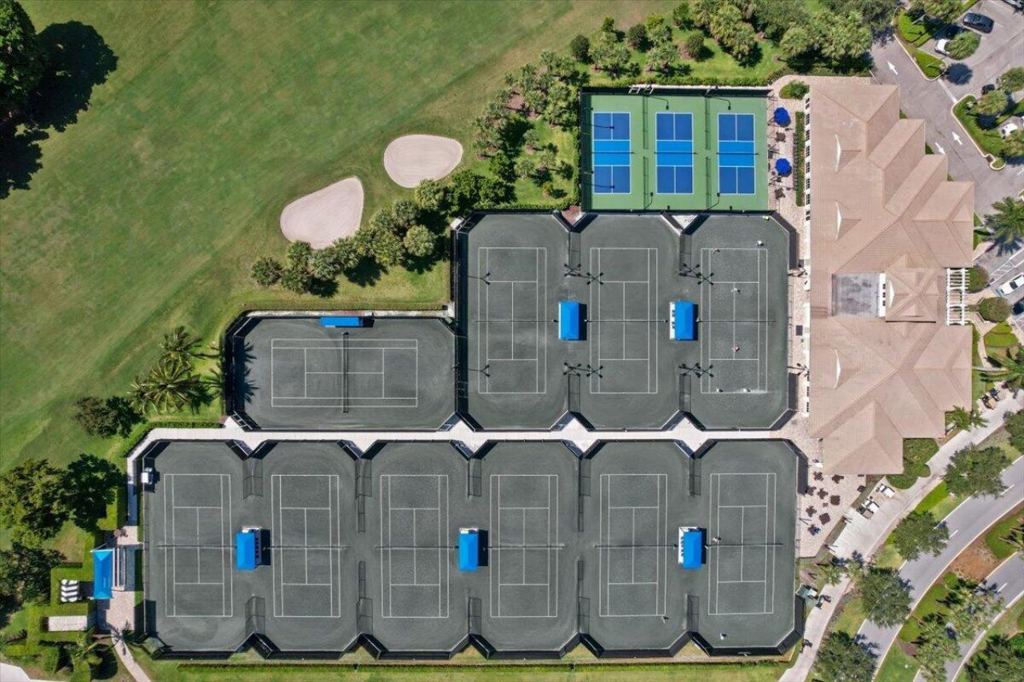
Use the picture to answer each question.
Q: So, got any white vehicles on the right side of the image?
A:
Yes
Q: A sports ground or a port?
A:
sports ground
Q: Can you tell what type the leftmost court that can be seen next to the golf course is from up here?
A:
tennis court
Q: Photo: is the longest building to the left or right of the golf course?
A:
to its right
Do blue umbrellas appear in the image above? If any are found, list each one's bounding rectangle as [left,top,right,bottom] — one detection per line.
[773,107,790,125]
[774,158,791,175]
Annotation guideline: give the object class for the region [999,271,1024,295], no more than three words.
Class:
car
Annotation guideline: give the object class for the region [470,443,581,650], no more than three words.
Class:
tennis court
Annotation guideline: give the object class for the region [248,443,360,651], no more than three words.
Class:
tennis court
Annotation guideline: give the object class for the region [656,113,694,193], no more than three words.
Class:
sports court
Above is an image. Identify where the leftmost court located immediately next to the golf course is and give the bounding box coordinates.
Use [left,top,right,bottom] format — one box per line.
[144,443,253,651]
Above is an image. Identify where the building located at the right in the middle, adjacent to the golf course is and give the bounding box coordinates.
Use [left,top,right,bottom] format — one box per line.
[803,84,974,474]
